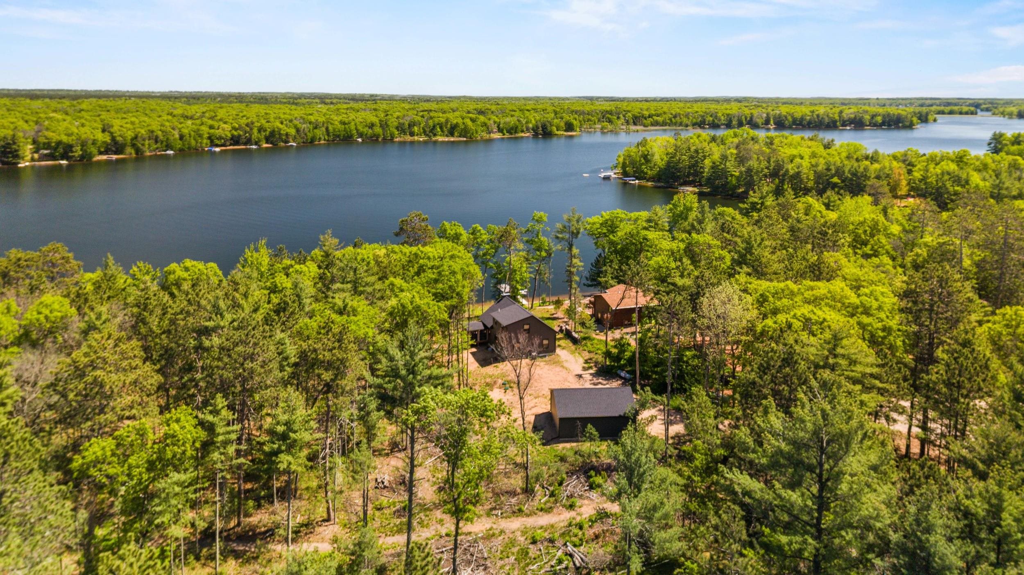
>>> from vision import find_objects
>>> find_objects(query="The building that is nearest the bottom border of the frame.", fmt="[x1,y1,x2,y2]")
[546,384,637,441]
